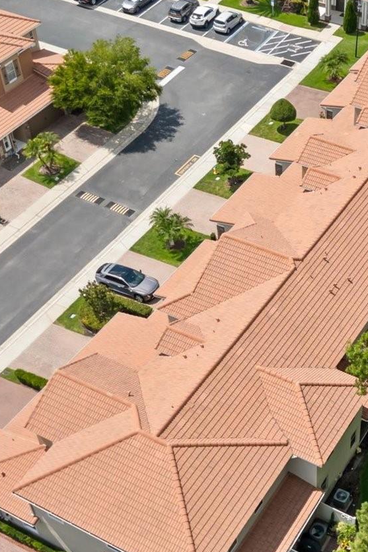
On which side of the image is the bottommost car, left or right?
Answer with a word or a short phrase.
left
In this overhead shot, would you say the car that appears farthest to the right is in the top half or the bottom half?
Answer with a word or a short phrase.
top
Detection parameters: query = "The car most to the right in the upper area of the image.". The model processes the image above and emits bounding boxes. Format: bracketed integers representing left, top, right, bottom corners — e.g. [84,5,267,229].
[210,12,240,33]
